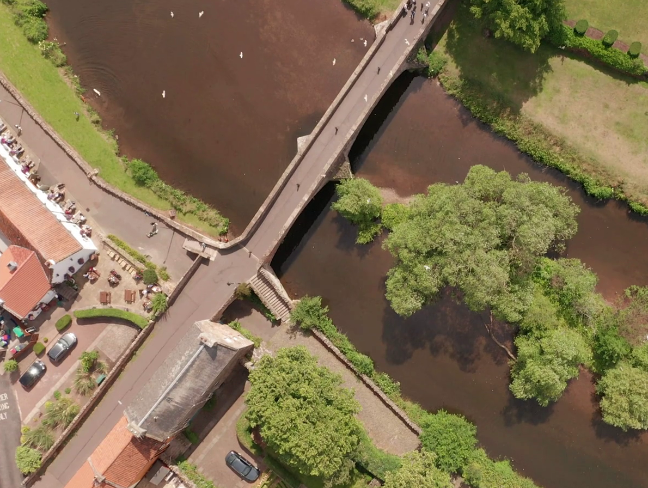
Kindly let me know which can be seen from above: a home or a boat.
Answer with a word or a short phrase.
home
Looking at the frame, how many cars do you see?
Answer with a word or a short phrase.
3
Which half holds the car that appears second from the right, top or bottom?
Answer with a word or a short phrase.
bottom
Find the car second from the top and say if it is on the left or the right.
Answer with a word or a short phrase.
left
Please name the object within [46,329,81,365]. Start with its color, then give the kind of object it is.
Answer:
gray car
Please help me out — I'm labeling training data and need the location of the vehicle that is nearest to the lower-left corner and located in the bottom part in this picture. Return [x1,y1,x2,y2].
[16,360,50,392]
